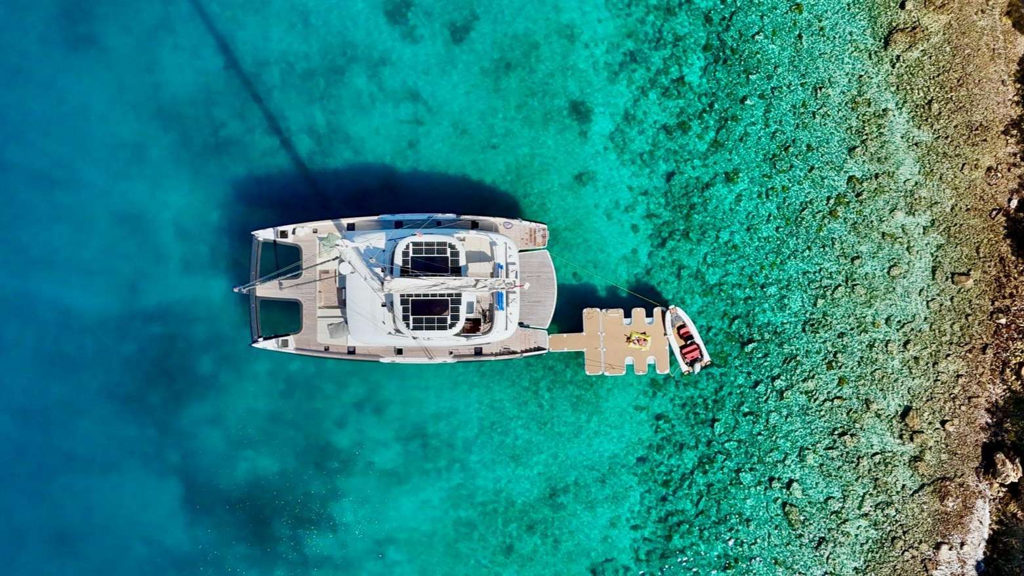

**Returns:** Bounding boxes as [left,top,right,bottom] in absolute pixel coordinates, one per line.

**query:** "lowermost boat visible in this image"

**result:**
[665,305,712,374]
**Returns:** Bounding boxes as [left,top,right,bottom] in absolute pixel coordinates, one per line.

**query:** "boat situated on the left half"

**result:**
[232,214,556,363]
